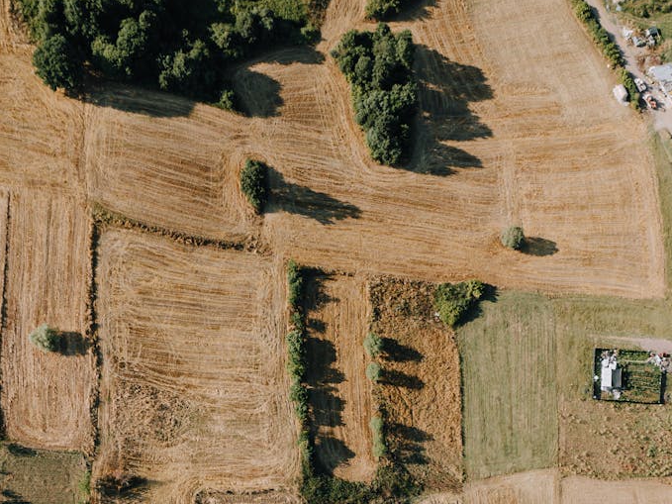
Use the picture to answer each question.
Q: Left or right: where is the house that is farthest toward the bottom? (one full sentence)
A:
The house that is farthest toward the bottom sits on the right side.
